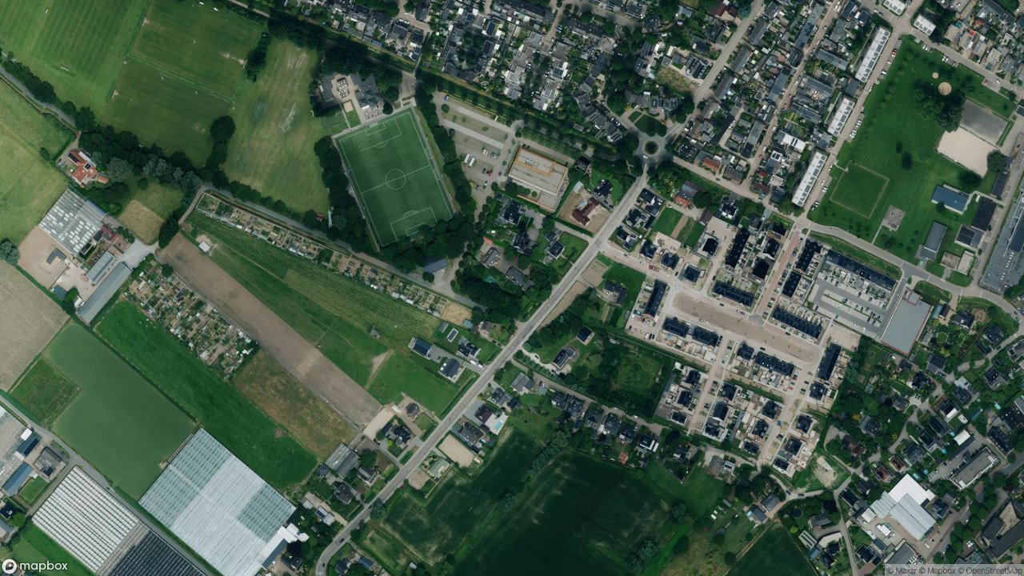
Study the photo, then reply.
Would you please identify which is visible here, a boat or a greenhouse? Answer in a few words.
greenhouse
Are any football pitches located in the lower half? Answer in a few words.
No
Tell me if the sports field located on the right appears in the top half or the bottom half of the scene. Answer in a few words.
top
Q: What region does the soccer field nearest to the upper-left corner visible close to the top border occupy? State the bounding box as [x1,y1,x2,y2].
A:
[27,3,128,77]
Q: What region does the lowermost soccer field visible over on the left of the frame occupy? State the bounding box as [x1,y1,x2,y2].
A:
[334,107,454,248]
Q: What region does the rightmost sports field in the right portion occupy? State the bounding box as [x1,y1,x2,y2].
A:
[830,161,890,218]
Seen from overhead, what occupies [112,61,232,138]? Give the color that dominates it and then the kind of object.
green soccer field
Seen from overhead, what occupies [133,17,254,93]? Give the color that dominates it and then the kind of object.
green soccer field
